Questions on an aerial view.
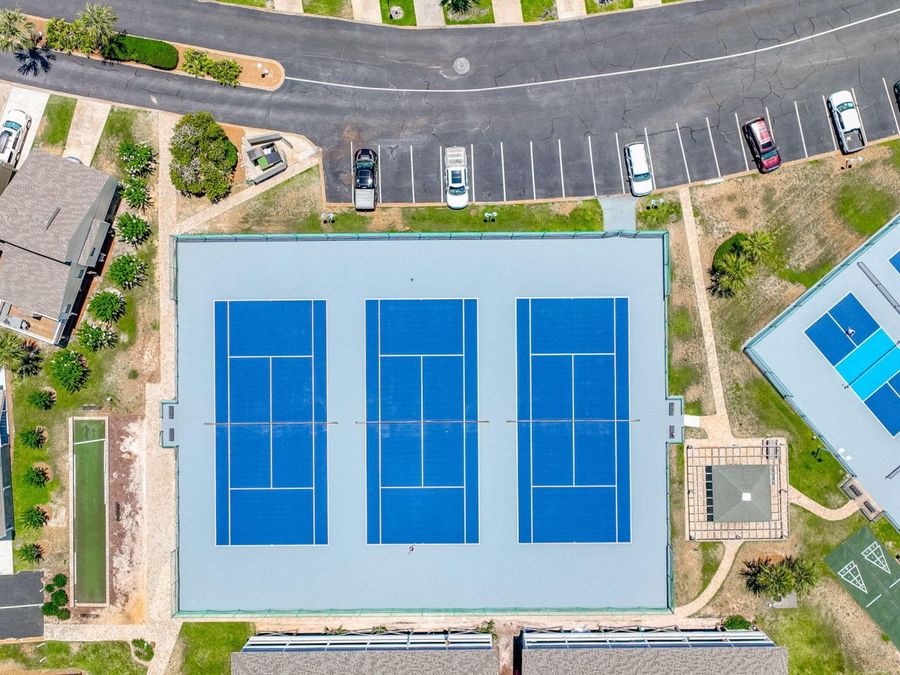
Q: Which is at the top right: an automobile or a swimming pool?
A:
automobile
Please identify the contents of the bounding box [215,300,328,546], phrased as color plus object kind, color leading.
blue tennis court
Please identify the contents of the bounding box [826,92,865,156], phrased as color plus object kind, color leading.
white truck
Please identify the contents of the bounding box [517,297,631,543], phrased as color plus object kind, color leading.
blue tennis court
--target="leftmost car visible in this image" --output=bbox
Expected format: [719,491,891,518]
[0,112,33,164]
